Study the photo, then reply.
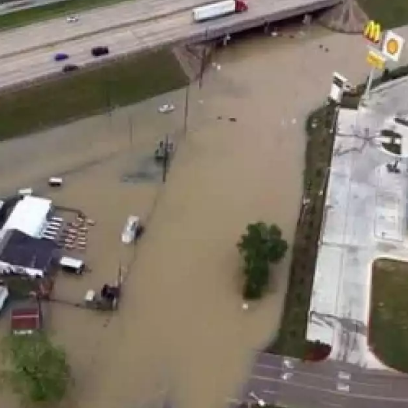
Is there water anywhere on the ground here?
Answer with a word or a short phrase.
Yes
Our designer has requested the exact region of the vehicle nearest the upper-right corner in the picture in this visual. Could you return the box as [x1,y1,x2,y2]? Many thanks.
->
[192,2,247,26]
